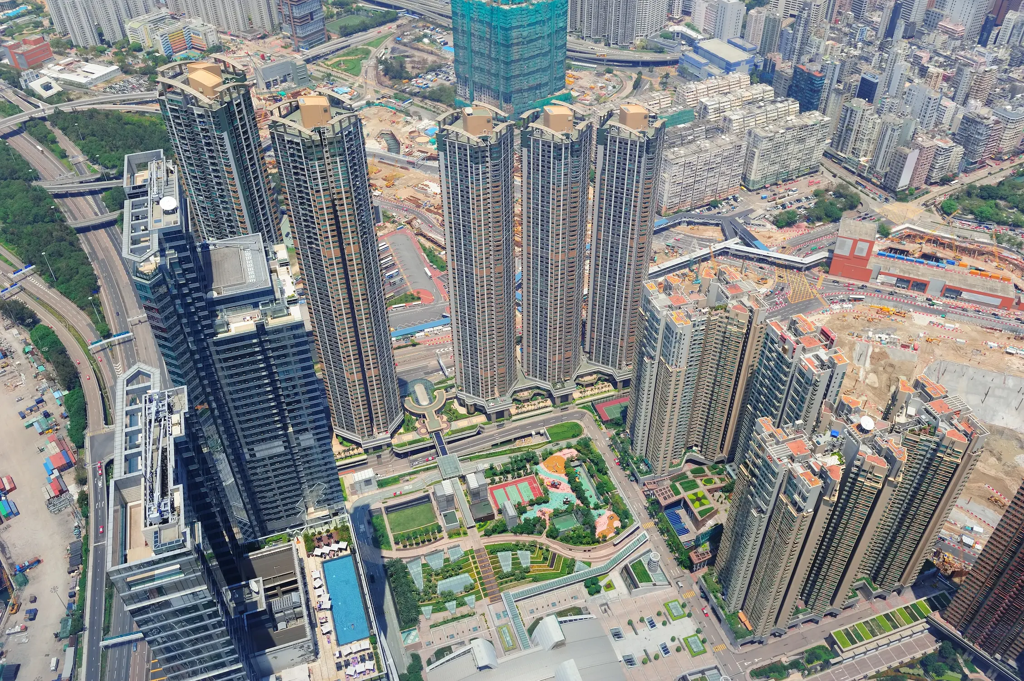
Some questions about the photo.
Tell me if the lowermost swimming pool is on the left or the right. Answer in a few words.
left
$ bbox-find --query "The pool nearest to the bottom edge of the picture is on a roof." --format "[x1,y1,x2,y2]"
[323,556,369,645]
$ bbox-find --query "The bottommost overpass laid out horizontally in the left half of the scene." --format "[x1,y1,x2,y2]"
[62,206,135,233]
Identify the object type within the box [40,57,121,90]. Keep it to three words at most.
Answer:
shed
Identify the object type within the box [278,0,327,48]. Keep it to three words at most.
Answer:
building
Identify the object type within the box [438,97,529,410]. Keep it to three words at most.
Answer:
building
